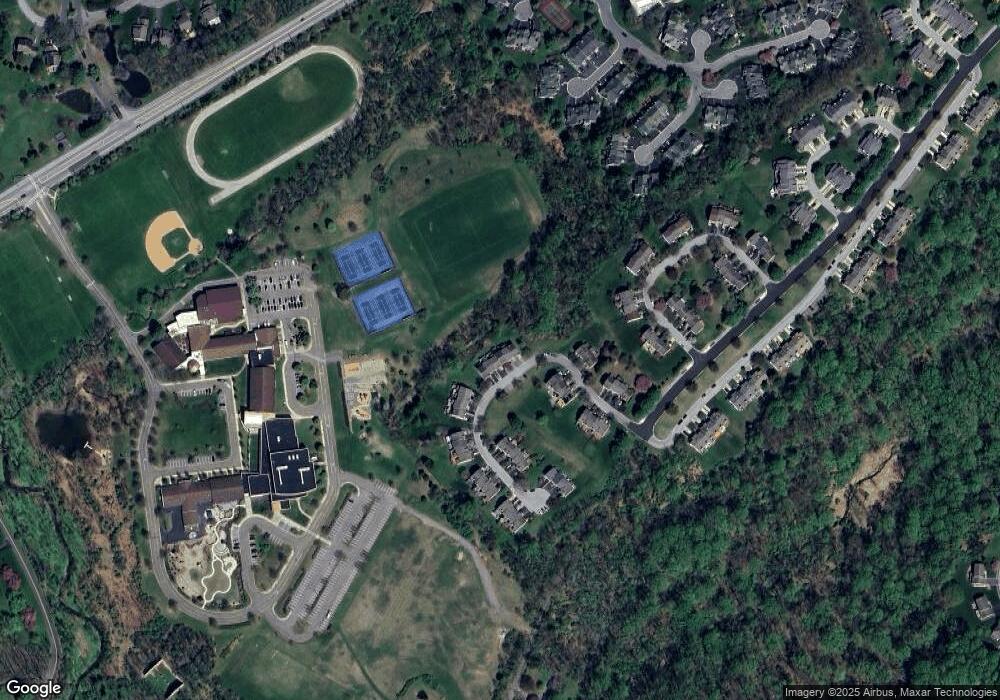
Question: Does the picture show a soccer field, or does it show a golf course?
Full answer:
I can see a soccer field in this picture.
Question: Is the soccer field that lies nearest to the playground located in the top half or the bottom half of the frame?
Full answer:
You can find the soccer field that lies nearest to the playground in the top half.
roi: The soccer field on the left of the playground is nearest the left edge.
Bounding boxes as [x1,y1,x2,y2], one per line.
[0,216,86,376]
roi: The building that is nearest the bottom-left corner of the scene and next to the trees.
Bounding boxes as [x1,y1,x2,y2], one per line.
[143,660,184,700]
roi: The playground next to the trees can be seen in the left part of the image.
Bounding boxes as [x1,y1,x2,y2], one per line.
[344,356,388,421]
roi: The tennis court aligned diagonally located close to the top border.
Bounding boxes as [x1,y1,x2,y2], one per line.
[538,0,574,31]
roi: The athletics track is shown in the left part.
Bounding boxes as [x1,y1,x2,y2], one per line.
[187,45,364,204]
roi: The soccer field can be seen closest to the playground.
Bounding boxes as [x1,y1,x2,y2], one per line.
[398,165,537,302]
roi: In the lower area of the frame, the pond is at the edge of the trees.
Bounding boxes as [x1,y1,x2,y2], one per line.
[37,411,92,461]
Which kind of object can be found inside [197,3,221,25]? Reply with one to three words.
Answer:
house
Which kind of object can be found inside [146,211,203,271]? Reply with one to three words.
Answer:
baseball field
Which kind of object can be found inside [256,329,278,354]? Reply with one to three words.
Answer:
building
